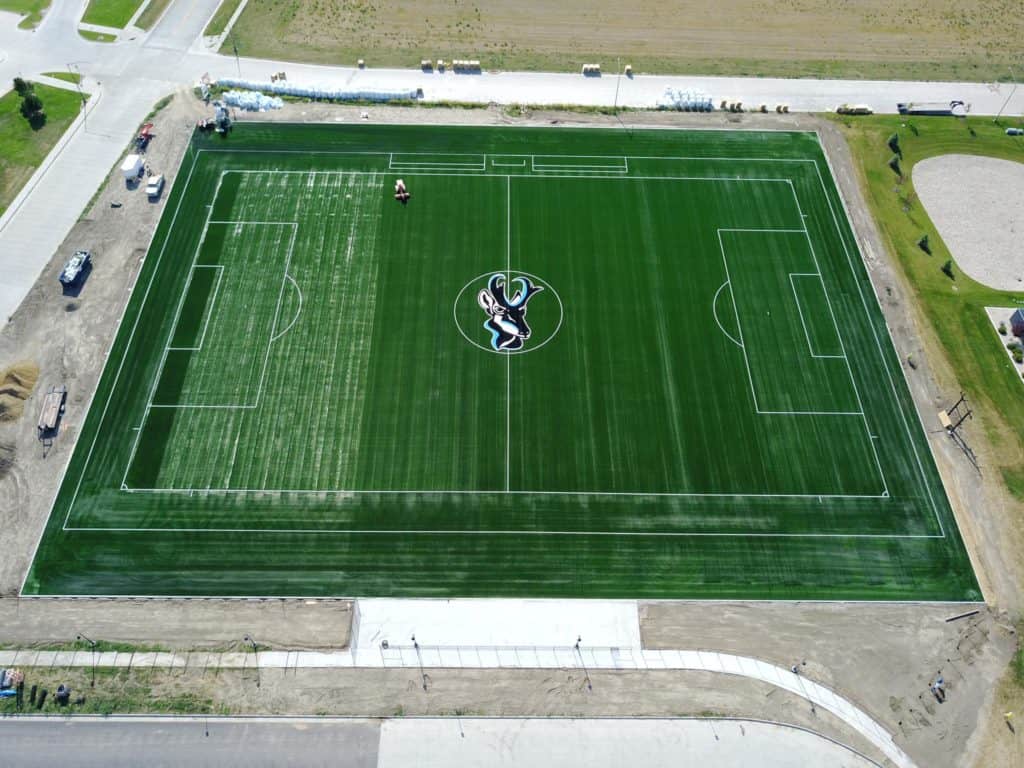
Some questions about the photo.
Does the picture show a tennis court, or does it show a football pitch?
football pitch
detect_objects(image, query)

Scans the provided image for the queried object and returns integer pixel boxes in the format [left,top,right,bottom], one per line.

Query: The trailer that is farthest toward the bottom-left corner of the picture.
[38,387,66,449]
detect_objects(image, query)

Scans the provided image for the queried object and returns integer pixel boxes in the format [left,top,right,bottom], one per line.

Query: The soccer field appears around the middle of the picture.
[20,121,986,603]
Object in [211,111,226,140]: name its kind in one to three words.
work vehicle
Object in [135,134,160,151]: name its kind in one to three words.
work vehicle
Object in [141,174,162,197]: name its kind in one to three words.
vehicle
